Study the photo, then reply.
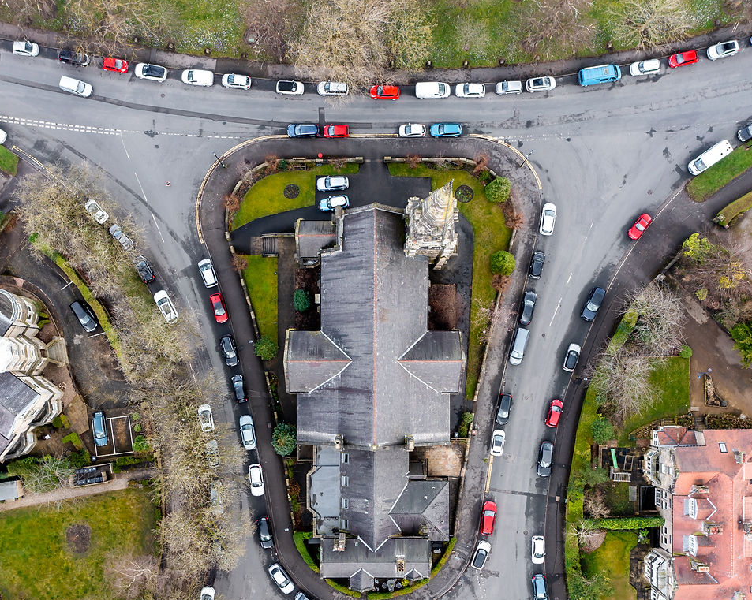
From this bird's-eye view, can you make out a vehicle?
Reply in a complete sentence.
Yes, the frame does contain a vehicle.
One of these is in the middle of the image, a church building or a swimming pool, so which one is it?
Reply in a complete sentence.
It is a church building that can be seen in the middle of the image.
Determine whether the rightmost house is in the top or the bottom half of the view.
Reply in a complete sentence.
The rightmost house sits in the bottom half of the picture.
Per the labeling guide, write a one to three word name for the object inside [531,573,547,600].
car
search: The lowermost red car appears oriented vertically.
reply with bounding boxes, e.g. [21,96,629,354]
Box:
[479,500,496,535]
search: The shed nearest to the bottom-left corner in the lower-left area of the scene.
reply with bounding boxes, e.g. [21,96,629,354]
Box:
[0,478,29,500]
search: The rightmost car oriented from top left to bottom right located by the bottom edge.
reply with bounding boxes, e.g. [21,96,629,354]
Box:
[266,560,297,593]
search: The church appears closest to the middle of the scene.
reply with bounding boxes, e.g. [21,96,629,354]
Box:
[282,178,467,448]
